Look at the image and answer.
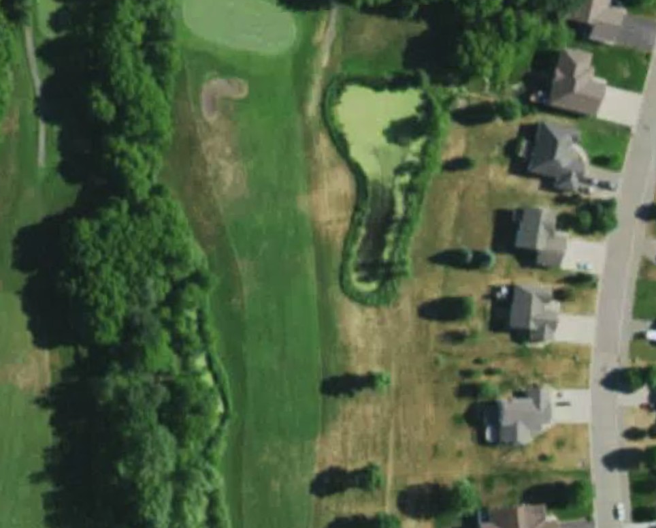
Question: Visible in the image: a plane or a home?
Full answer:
It is a home that can be seen here.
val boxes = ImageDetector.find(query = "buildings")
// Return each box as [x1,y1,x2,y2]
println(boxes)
[485,384,556,445]
[519,115,589,196]
[514,207,568,269]
[570,0,630,28]
[482,501,561,528]
[536,44,610,123]
[501,281,561,342]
